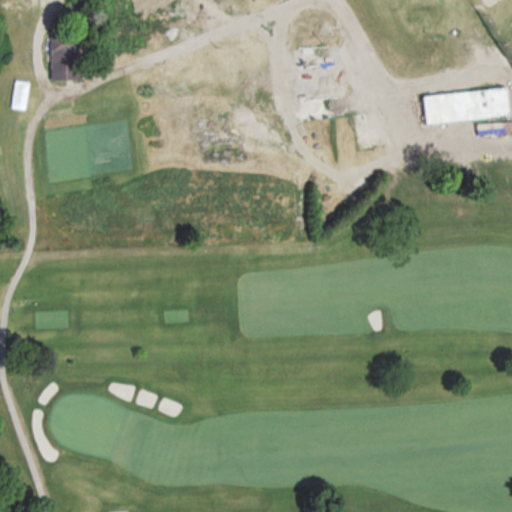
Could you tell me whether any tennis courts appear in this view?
No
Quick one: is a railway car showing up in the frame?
No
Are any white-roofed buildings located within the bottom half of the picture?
No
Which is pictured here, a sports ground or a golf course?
golf course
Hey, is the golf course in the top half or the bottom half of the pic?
bottom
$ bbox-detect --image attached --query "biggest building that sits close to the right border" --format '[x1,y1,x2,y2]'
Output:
[424,88,510,125]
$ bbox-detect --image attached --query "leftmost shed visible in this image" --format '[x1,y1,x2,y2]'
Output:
[11,79,30,111]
